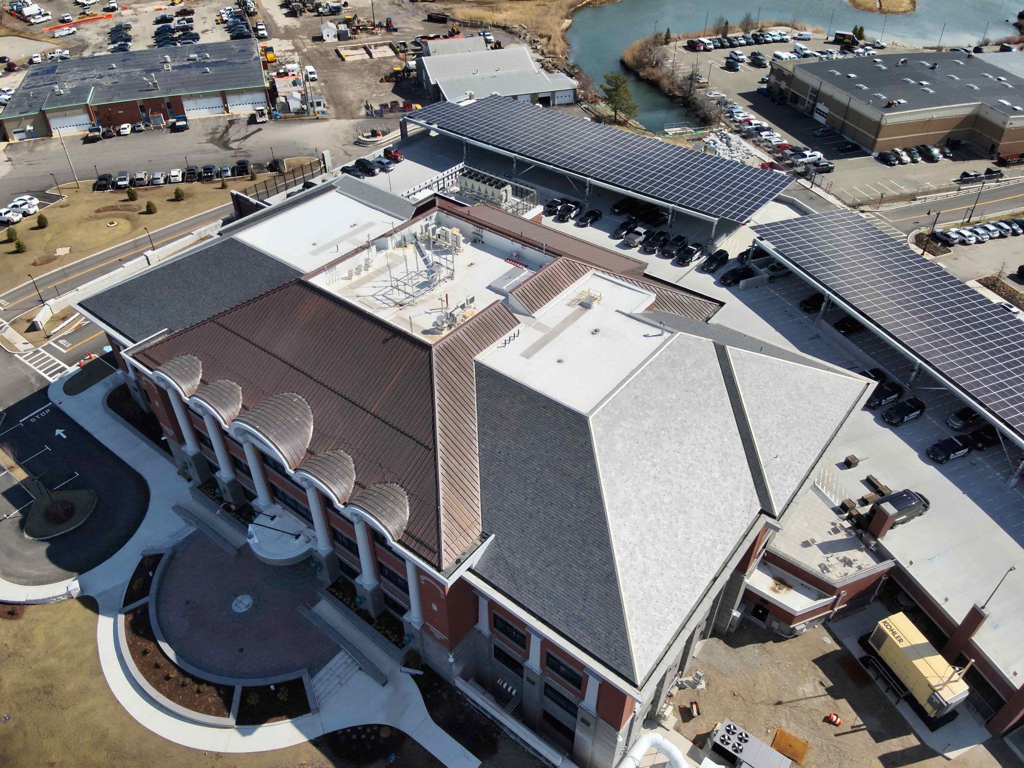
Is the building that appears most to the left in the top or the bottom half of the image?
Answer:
top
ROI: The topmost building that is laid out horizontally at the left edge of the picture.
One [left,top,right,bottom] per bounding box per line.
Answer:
[0,39,269,144]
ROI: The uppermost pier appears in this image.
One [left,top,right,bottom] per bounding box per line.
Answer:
[664,119,697,138]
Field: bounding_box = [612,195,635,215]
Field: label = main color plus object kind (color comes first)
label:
black car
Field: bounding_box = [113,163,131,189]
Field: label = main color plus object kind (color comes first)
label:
gray vehicle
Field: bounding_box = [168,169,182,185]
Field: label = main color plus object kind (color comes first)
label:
white car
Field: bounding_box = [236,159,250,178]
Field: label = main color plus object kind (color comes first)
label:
black vehicle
